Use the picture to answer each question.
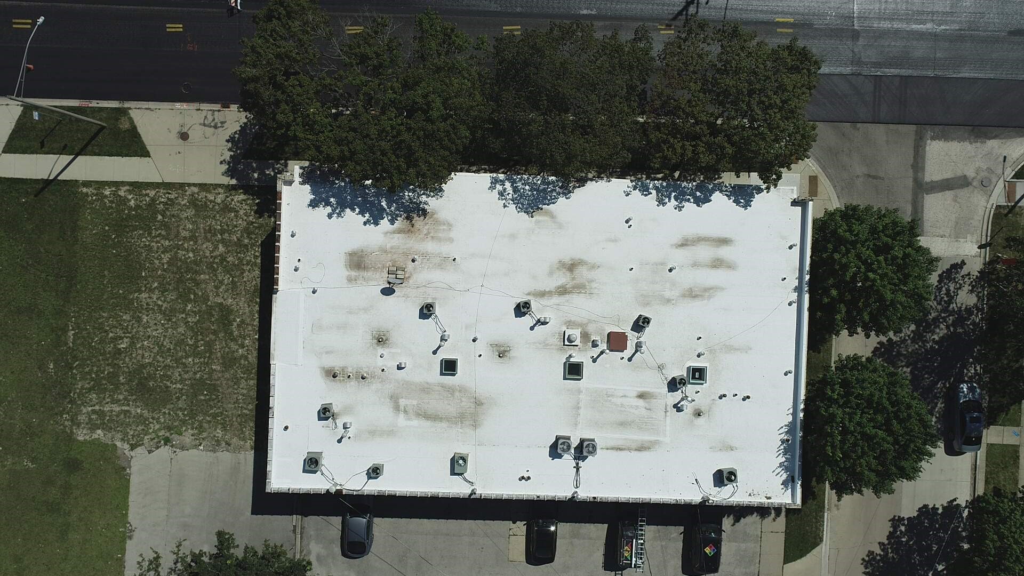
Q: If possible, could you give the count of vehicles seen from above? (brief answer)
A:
5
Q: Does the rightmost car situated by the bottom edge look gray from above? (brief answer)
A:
No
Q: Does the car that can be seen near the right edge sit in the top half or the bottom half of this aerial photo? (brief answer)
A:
bottom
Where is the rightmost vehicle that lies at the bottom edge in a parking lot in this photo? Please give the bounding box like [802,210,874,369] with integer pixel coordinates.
[688,504,726,574]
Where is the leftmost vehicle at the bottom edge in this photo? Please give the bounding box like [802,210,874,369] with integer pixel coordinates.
[343,494,376,559]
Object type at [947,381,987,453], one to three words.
car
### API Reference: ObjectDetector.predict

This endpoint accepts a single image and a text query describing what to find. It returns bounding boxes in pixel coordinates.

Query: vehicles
[688,504,726,574]
[526,500,560,564]
[610,502,644,568]
[947,381,987,453]
[343,494,376,559]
